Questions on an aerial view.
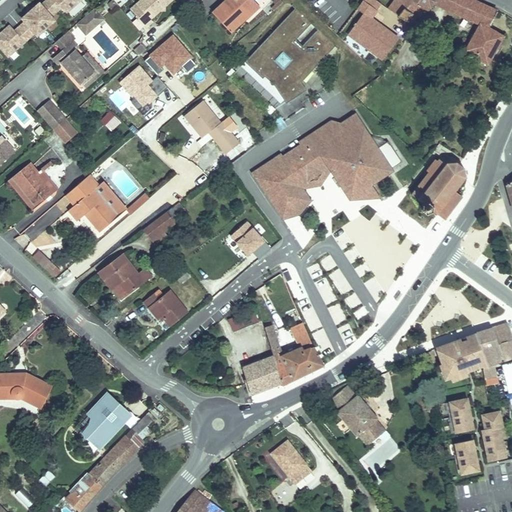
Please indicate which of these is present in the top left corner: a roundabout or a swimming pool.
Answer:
swimming pool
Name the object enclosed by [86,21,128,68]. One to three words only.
swimming pool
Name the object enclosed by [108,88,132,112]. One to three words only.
swimming pool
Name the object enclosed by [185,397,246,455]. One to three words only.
roundabout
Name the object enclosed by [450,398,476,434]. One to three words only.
house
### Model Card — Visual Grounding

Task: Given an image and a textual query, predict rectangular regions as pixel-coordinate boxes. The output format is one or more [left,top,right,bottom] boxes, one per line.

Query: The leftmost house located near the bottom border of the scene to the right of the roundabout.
[263,439,312,487]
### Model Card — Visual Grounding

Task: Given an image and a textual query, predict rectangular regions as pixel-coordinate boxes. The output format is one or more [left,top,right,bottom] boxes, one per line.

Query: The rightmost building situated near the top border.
[468,22,506,64]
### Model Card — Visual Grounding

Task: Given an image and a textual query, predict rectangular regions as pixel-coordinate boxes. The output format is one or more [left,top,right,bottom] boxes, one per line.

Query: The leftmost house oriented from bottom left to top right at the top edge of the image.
[0,1,56,58]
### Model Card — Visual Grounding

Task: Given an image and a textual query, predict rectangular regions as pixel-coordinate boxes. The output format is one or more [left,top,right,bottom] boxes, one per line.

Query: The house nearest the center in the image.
[231,220,266,258]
